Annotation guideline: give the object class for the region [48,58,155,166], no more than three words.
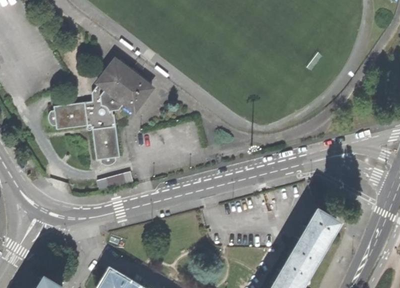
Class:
building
